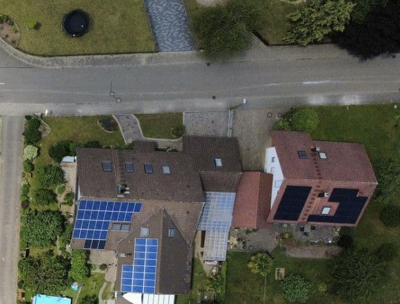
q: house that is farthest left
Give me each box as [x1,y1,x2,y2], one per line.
[69,135,241,304]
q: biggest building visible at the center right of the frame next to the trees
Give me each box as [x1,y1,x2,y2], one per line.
[258,130,378,226]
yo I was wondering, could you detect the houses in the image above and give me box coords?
[69,135,241,304]
[258,130,378,226]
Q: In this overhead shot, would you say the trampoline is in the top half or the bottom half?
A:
top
